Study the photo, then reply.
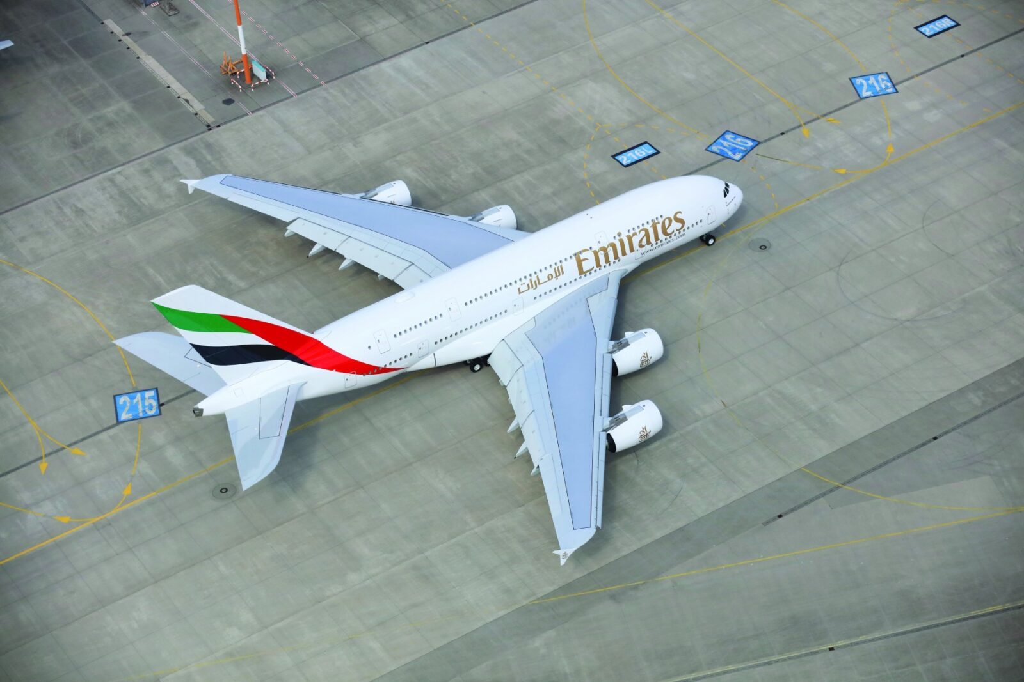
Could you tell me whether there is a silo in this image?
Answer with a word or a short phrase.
No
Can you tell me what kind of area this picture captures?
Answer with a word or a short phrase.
airport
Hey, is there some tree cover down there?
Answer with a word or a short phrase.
No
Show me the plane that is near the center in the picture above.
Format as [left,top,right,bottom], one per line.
[113,175,743,566]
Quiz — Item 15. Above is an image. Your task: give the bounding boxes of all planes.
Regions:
[113,175,743,566]
[0,39,14,48]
